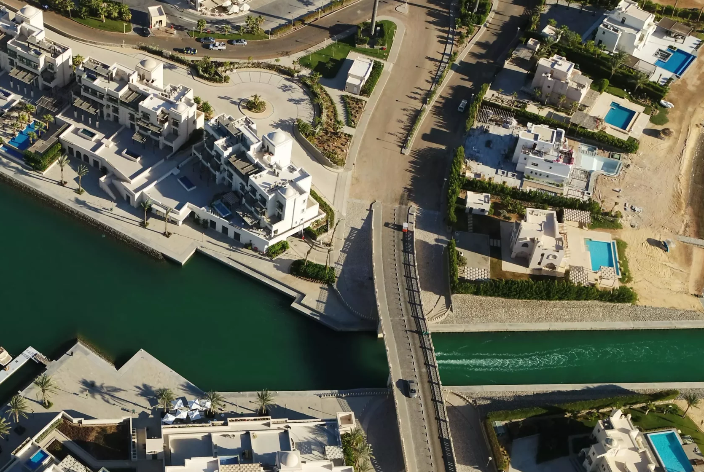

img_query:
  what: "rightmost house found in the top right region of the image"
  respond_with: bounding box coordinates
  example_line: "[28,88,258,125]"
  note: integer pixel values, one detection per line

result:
[593,0,656,55]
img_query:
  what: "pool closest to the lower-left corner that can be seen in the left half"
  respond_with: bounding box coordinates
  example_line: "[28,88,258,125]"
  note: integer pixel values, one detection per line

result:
[23,450,52,472]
